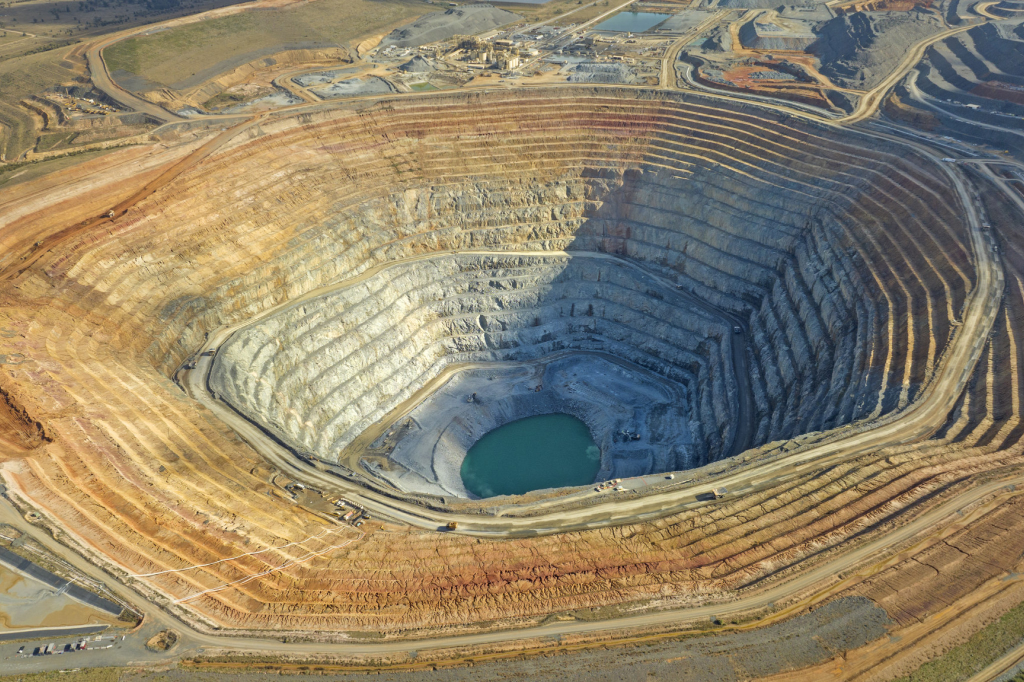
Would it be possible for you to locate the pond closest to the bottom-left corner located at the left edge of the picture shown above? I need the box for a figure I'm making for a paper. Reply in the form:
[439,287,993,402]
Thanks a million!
[0,557,116,639]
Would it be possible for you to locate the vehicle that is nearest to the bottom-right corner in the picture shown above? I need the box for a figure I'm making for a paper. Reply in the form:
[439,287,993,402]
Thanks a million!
[711,489,729,502]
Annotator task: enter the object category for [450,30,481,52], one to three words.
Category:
building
